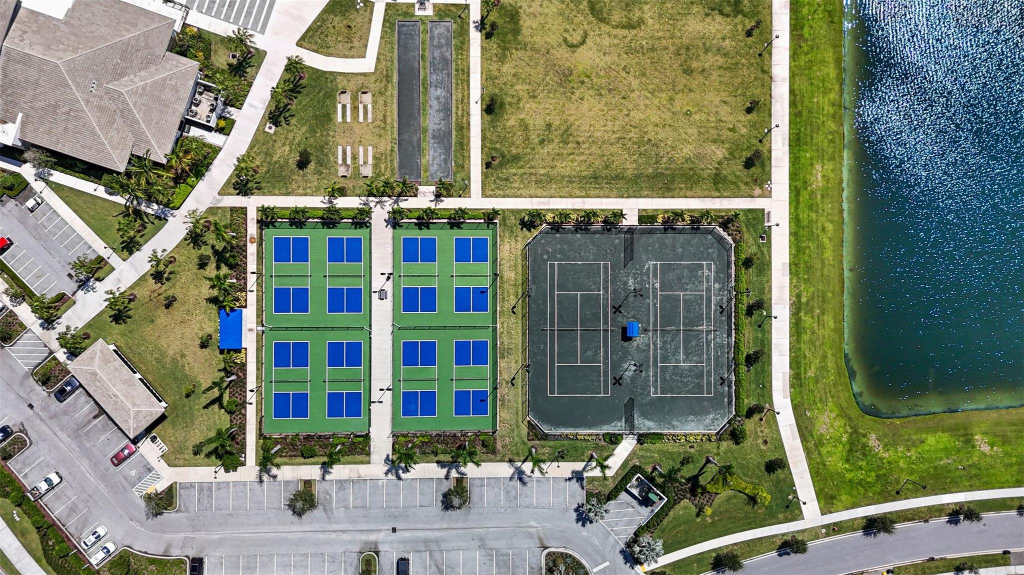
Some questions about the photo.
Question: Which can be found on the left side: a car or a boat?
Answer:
car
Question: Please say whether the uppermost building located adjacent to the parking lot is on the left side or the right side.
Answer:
left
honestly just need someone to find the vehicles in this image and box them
[395,558,409,575]
[78,527,106,552]
[86,542,117,568]
[107,444,135,469]
[0,425,11,442]
[0,236,11,252]
[187,558,202,575]
[50,378,77,403]
[20,196,42,211]
[24,472,60,502]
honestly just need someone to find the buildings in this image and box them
[0,0,204,178]
[67,338,166,440]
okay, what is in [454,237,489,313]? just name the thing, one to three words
sports court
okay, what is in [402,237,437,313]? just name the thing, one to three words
sports court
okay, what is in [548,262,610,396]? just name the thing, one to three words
tennis court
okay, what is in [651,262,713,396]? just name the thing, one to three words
tennis court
